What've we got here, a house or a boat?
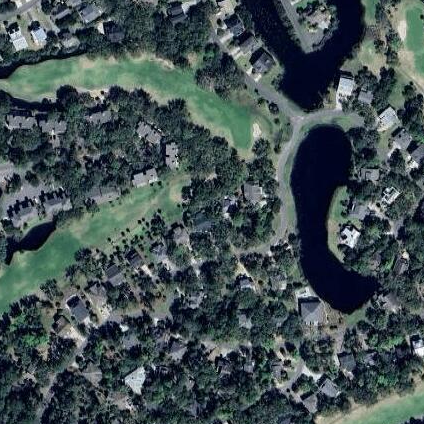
house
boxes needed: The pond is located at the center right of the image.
[291,125,379,312]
